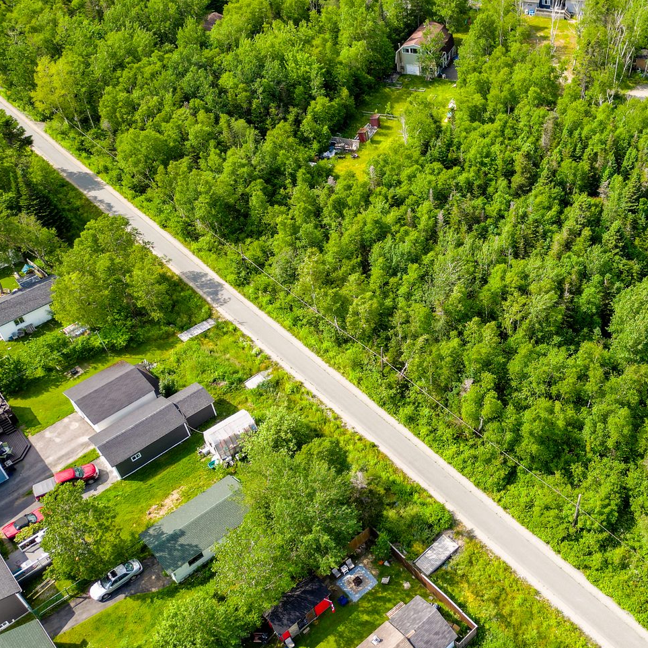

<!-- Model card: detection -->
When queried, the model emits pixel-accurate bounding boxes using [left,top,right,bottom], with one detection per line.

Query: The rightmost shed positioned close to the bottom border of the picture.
[391,594,458,648]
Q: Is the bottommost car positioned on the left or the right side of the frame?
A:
left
